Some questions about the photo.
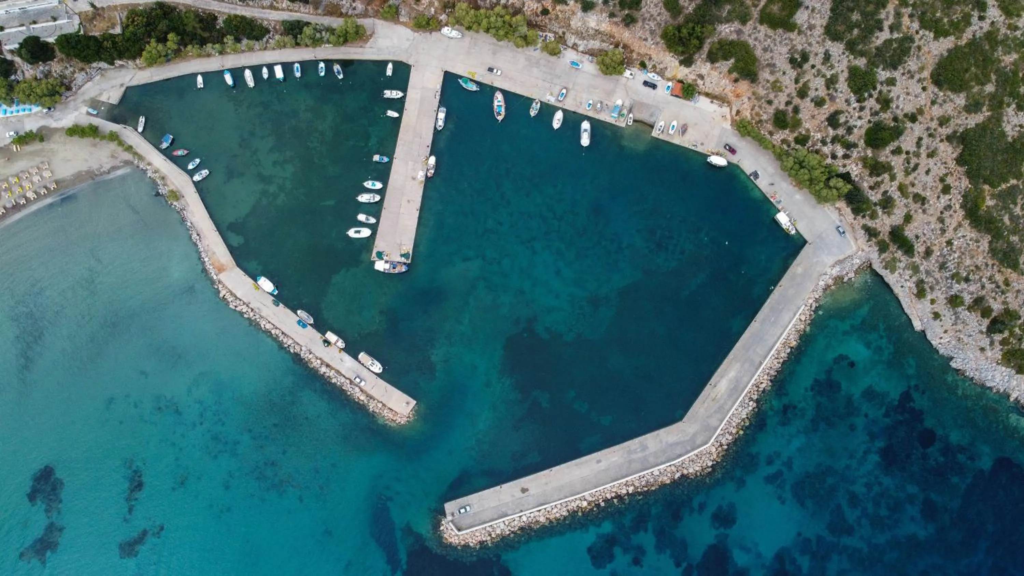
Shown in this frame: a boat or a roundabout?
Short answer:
boat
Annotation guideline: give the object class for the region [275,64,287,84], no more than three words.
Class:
boat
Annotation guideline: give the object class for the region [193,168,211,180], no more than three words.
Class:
boat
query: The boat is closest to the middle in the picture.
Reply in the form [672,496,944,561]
[375,260,408,273]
